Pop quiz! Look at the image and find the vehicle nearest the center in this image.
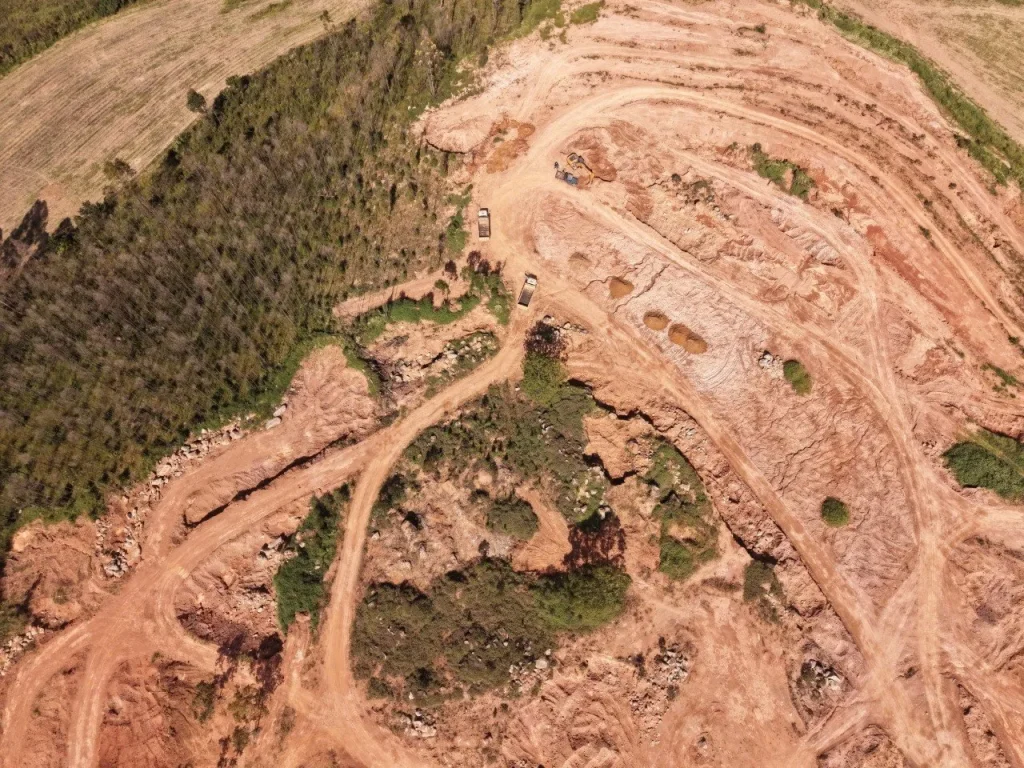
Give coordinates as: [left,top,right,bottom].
[517,273,537,306]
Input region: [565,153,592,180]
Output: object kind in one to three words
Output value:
work vehicle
